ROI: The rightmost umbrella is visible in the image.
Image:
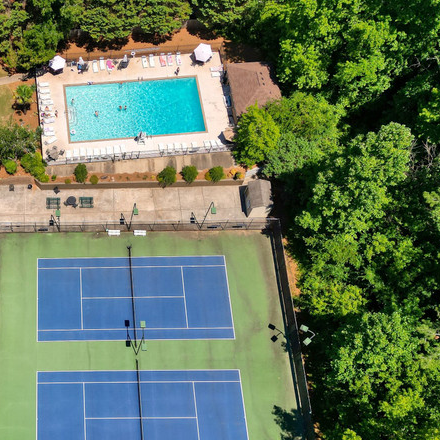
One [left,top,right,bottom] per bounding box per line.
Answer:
[221,129,240,148]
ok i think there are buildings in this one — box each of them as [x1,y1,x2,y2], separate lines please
[244,173,279,216]
[226,63,288,131]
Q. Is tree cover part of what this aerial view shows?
Yes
